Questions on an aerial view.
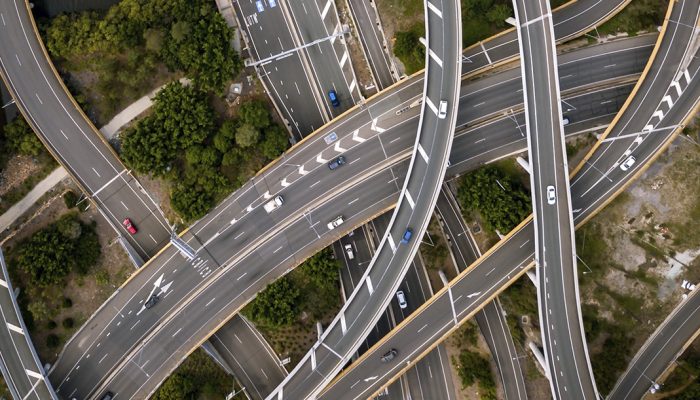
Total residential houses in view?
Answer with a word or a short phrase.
zero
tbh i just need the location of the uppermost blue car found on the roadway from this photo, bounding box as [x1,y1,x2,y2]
[327,88,340,109]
